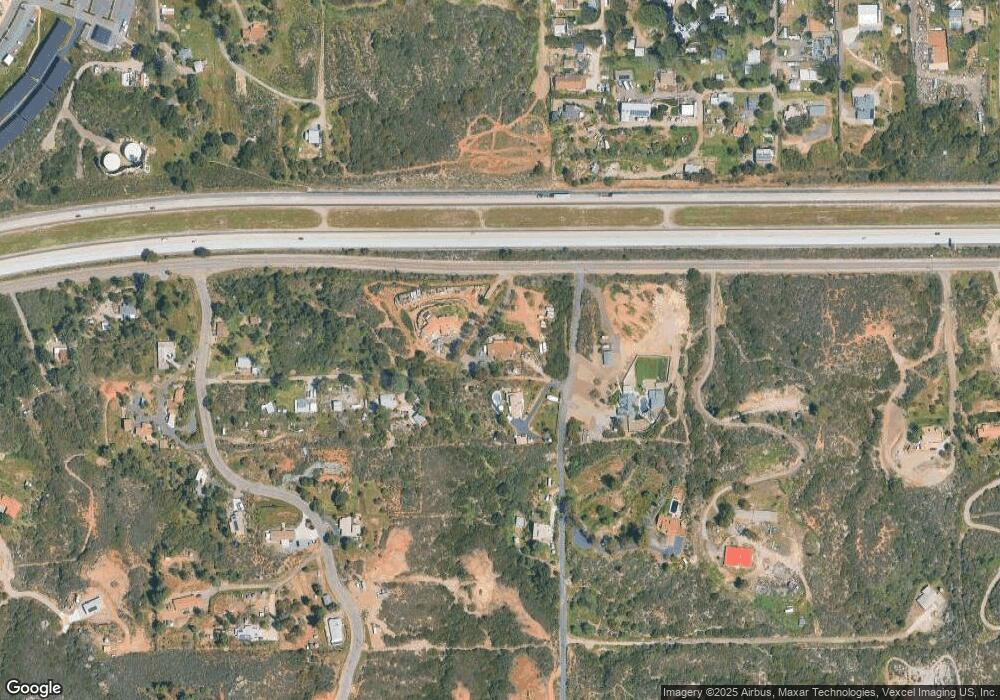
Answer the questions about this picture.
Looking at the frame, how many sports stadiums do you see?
0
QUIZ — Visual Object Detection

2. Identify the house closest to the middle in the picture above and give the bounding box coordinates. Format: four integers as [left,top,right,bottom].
[485,337,524,358]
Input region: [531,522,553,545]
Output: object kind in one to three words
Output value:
house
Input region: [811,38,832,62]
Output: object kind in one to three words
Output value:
house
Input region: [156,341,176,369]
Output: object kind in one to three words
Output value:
building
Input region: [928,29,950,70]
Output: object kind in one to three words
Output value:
building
